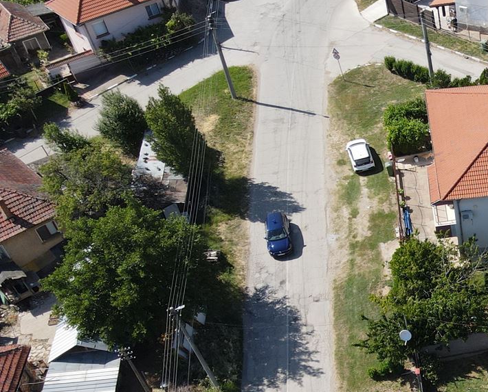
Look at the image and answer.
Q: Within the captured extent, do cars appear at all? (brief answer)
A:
Yes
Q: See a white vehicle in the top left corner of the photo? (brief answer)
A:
No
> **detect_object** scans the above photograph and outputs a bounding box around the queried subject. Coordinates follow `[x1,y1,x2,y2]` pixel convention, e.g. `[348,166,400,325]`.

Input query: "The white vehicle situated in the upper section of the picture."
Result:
[344,135,373,168]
